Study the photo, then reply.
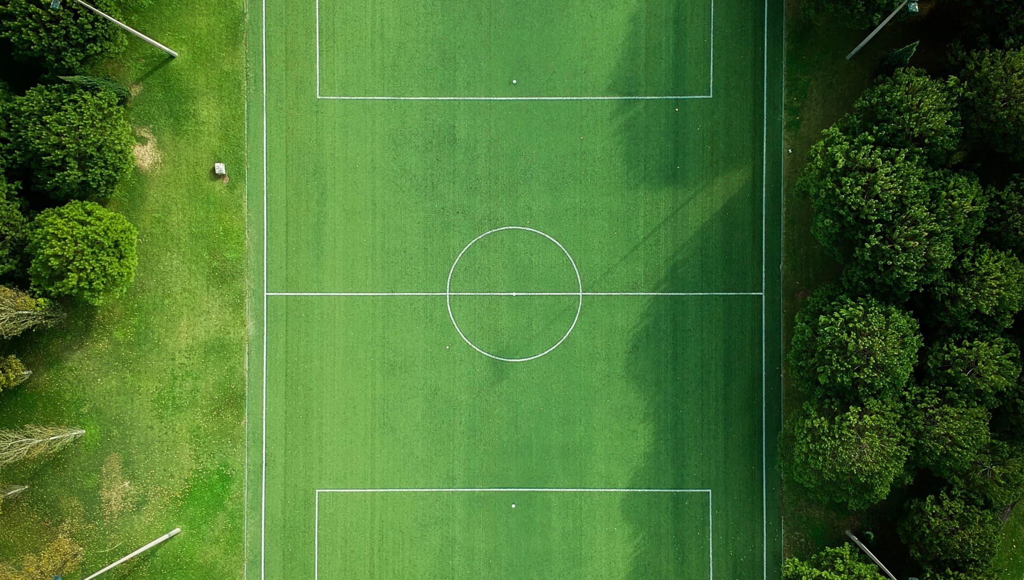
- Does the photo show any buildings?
No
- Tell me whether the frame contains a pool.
No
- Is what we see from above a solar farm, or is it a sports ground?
sports ground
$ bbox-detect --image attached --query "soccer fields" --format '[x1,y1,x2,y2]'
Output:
[247,0,783,580]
